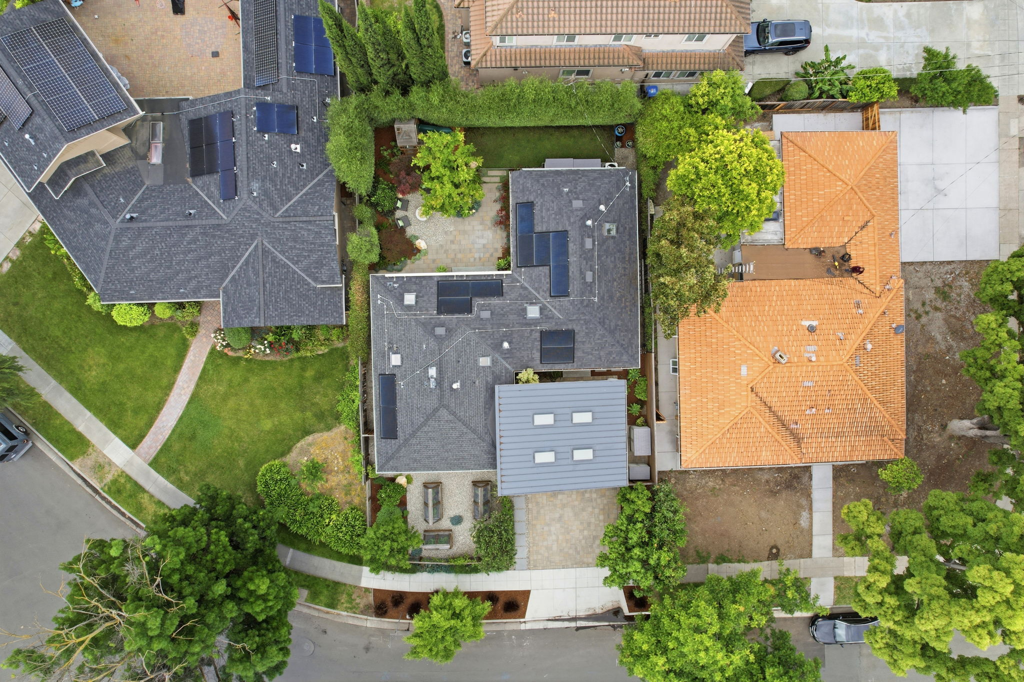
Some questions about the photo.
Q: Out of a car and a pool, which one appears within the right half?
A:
car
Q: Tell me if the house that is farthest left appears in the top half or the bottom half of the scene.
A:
top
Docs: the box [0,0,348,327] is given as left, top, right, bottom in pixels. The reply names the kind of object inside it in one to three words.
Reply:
house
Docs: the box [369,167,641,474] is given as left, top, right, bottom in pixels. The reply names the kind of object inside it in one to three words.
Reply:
house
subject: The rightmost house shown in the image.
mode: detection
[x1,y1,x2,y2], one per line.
[664,130,910,470]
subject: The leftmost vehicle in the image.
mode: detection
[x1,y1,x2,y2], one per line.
[0,411,36,461]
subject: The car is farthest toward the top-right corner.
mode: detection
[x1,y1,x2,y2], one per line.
[745,16,813,57]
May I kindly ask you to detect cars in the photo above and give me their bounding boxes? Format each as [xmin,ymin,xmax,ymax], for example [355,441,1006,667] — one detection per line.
[803,605,869,644]
[745,16,813,57]
[0,411,36,461]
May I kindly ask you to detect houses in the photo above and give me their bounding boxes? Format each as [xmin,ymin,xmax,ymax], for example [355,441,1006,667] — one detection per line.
[369,167,641,474]
[664,130,910,470]
[0,0,348,327]
[453,0,752,83]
